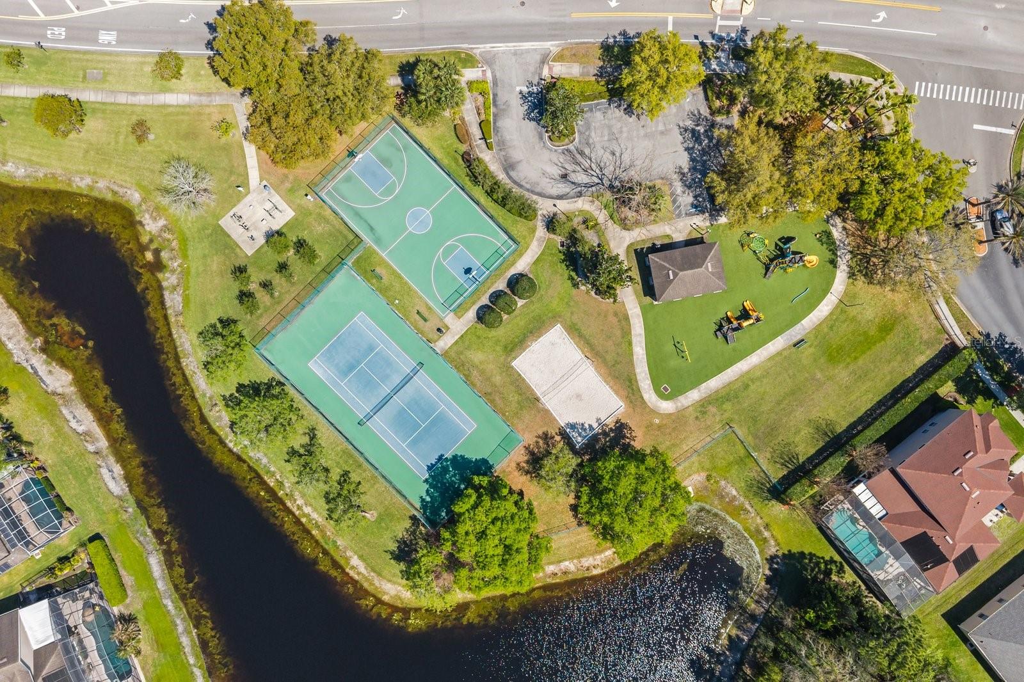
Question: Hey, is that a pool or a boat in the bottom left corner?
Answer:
pool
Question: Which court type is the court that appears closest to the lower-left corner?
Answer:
tennis court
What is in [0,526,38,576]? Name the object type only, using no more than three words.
house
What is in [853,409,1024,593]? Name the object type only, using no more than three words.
house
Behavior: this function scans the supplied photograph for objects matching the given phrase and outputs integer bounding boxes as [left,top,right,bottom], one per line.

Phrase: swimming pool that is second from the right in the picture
[58,584,139,682]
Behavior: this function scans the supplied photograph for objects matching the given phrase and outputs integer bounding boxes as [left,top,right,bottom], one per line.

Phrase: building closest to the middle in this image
[647,242,727,304]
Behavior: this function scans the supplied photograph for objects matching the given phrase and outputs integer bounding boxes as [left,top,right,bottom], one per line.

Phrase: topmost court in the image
[315,116,520,316]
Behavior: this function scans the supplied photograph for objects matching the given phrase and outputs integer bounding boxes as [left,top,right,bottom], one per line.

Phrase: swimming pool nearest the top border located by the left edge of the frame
[0,466,73,547]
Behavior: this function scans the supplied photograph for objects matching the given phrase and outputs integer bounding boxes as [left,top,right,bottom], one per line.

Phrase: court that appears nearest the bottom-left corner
[258,263,523,530]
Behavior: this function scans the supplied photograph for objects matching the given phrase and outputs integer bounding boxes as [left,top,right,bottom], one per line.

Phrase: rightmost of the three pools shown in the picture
[826,499,935,606]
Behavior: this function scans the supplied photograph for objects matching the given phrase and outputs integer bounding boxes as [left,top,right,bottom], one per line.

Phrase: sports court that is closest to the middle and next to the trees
[512,324,624,447]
